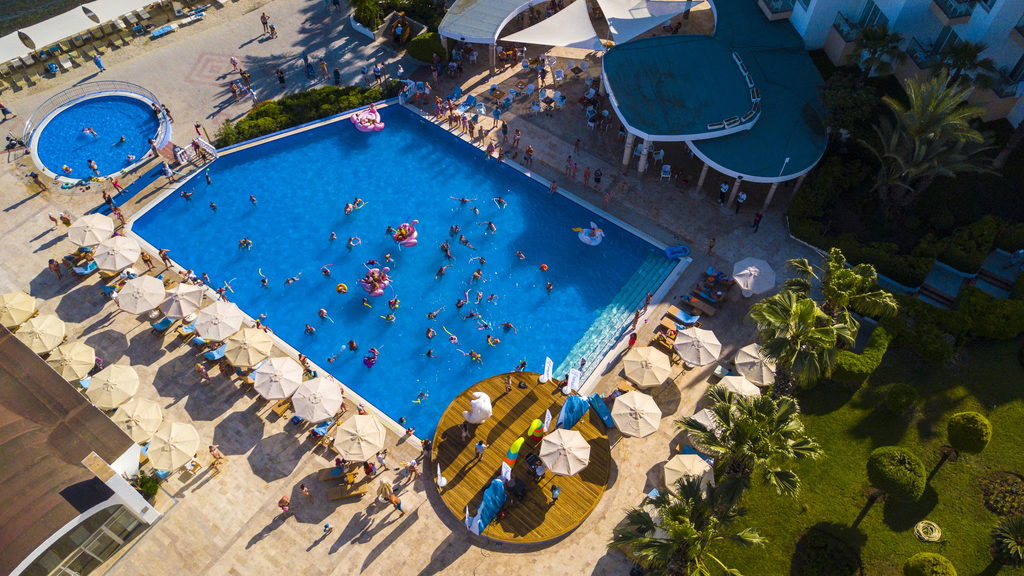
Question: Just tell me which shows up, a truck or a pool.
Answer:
pool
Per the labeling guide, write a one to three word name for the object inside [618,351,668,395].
umbrella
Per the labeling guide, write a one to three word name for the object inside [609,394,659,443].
umbrella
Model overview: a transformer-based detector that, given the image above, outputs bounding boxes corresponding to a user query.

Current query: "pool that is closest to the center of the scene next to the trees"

[132,104,680,437]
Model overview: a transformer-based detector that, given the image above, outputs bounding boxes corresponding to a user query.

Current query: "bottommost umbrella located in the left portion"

[368,474,392,506]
